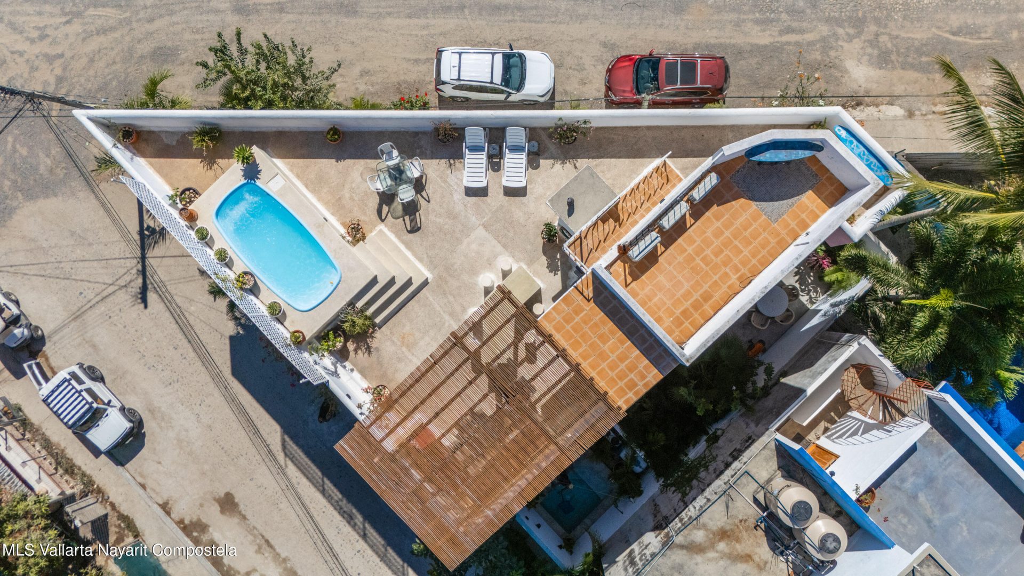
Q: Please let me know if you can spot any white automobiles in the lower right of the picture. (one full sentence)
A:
No, there's no white automobile to be seen in the lower right of the picture.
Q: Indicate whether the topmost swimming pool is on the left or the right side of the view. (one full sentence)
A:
It is on the left.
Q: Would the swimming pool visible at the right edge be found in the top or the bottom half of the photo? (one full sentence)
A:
The bottom half of the photo is where the swimming pool visible at the right edge is.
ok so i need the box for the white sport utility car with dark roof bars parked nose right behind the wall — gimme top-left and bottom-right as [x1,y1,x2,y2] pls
[440,43,557,104]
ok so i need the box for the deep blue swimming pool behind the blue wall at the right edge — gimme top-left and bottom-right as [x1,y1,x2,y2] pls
[936,326,1024,455]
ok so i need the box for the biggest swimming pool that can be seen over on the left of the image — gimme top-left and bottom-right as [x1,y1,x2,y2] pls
[191,146,429,339]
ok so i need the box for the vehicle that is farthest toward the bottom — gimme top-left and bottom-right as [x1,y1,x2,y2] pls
[10,365,149,461]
